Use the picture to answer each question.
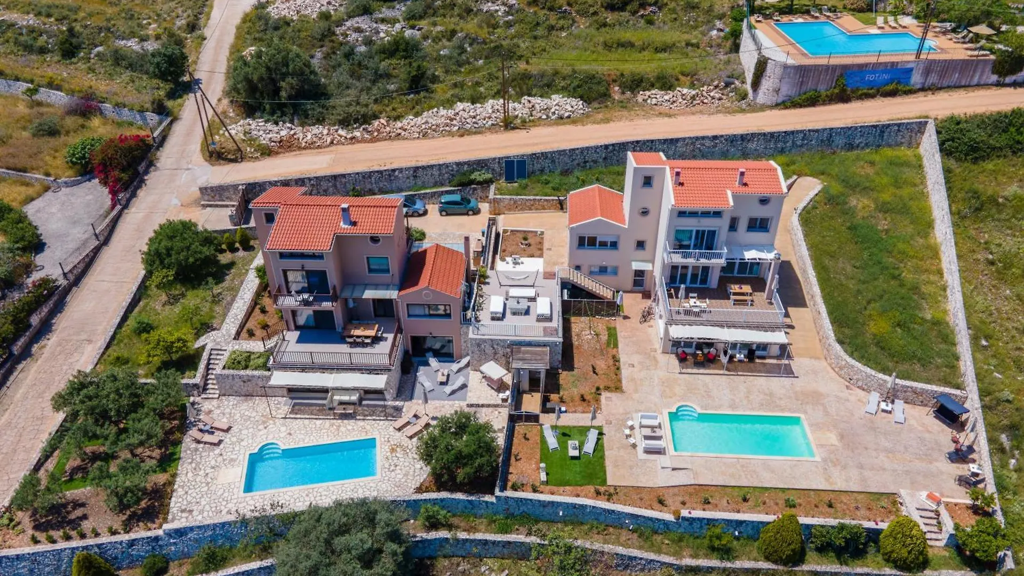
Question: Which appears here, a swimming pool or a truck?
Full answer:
The one in the frame is a swimming pool.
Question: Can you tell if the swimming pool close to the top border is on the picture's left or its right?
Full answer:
The swimming pool close to the top border appears in the right half of the scene.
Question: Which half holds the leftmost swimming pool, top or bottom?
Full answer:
The leftmost swimming pool sits in the bottom half of the picture.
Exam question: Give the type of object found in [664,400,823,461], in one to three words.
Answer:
swimming pool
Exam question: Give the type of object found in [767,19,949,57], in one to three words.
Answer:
swimming pool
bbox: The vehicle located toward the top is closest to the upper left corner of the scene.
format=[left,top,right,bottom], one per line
[391,195,431,218]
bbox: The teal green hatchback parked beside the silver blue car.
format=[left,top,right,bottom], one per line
[437,194,480,216]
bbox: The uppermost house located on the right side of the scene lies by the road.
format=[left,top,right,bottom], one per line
[563,151,799,354]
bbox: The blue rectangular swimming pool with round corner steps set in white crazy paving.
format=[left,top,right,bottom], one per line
[237,433,382,497]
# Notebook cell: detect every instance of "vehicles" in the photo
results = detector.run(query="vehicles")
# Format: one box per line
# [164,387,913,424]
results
[391,195,431,218]
[437,194,480,216]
